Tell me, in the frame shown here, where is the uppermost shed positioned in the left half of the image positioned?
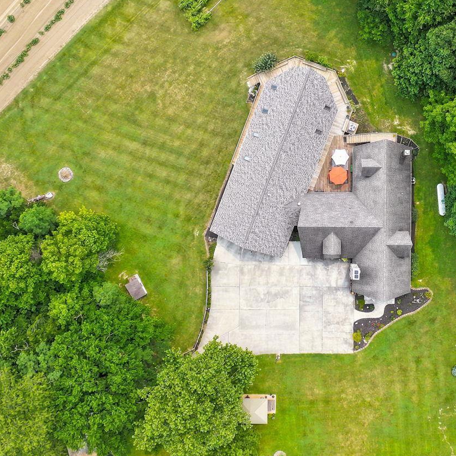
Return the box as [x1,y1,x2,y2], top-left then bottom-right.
[123,274,148,300]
